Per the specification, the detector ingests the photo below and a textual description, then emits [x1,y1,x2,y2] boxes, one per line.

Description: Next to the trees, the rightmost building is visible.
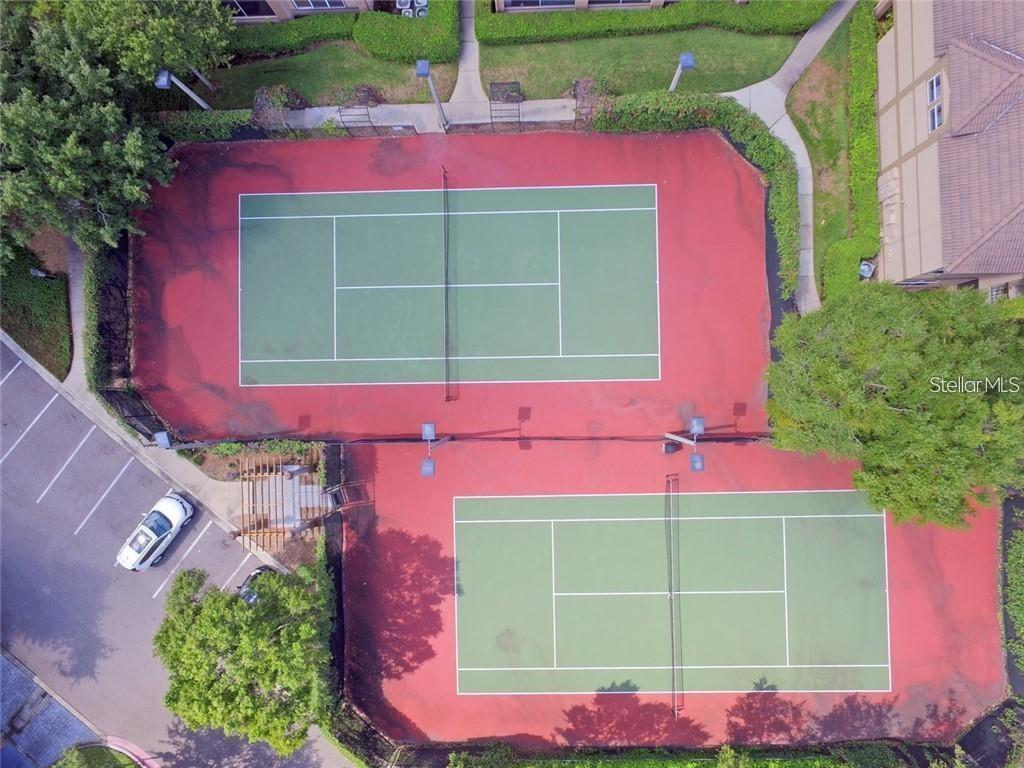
[873,0,1024,291]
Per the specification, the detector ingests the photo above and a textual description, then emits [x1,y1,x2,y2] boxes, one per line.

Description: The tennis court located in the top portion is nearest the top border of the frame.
[130,129,773,440]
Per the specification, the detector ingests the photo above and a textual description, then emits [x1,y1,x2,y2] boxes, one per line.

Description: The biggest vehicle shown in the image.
[119,491,192,572]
